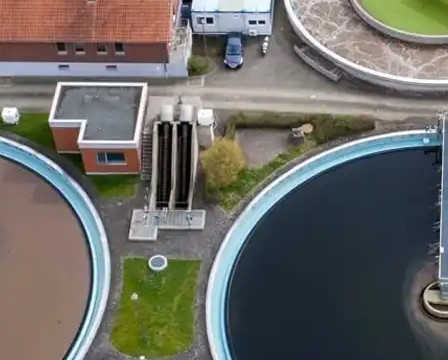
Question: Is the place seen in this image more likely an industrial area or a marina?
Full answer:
What you see here is an industrial area.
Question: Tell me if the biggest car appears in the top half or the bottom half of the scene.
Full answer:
You can find the biggest car in the top half.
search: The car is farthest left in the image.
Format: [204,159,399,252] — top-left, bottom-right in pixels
[221,30,244,65]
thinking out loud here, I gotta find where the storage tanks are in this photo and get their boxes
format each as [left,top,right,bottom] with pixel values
[284,0,448,97]
[205,130,448,360]
[0,136,111,360]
